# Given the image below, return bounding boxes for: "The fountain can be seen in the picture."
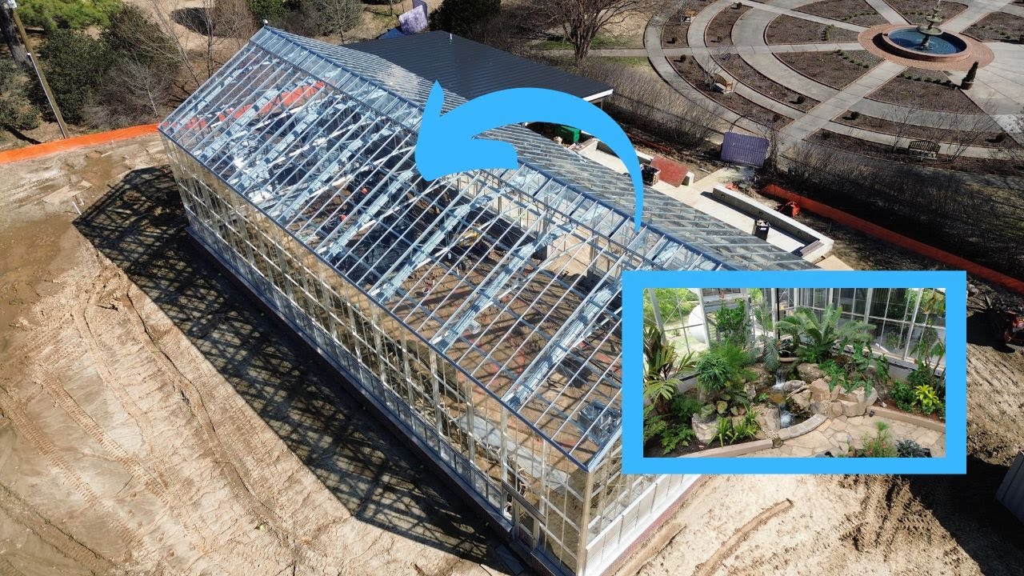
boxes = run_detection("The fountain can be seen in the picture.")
[858,0,995,71]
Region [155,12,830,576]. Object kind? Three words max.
greenhouse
